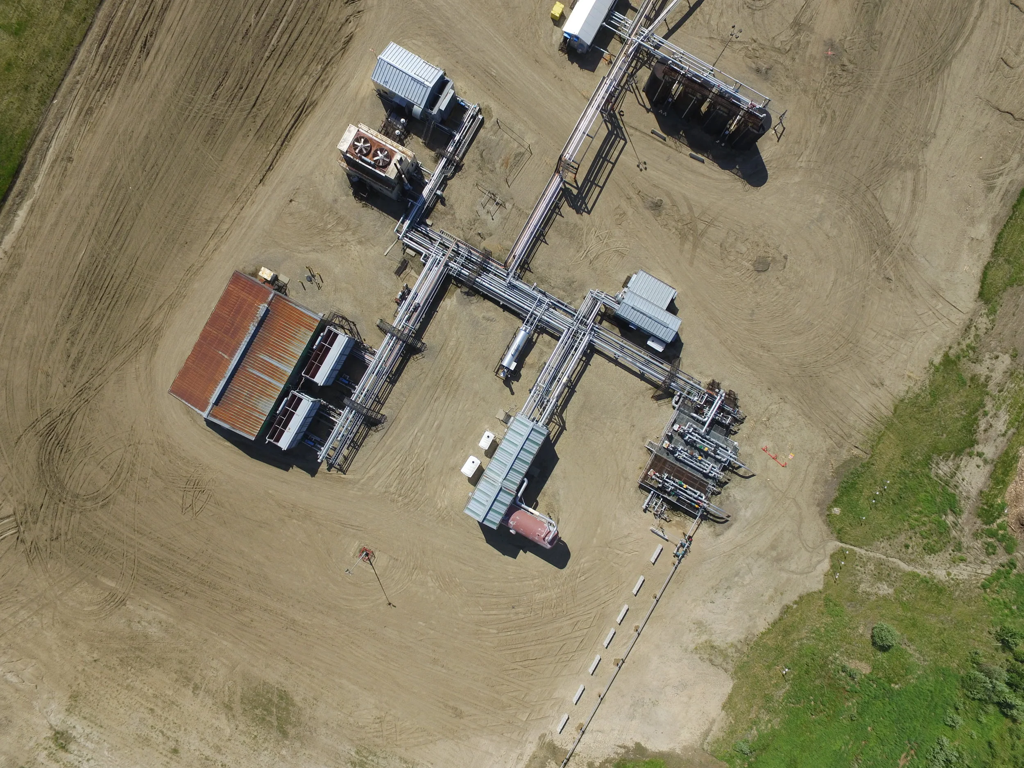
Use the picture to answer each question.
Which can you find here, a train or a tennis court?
train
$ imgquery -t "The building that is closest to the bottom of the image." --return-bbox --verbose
[462,474,521,530]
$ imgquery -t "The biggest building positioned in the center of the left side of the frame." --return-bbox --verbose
[167,270,334,440]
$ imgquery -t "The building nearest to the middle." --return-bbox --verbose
[484,406,551,493]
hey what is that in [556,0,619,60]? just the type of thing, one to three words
building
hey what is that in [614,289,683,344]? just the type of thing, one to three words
building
